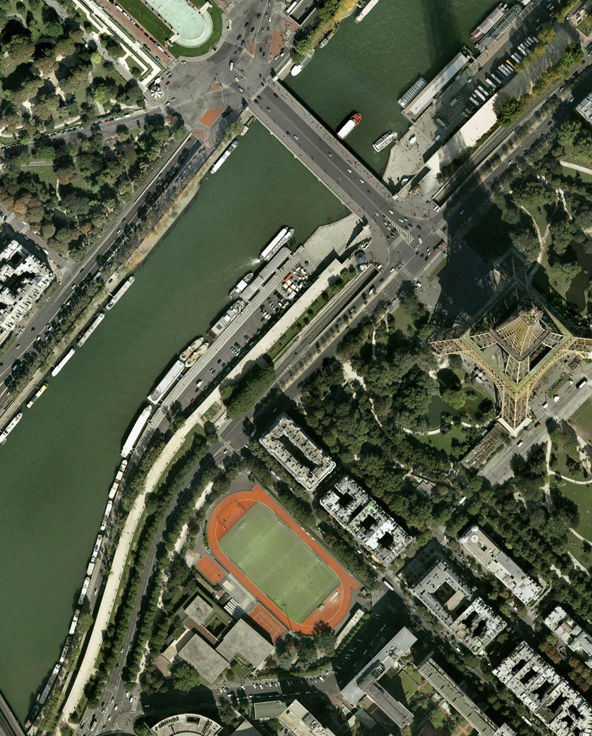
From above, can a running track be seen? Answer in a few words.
Yes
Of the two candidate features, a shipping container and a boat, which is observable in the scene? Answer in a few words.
boat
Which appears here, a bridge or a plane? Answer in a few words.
bridge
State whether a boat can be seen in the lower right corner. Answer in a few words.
No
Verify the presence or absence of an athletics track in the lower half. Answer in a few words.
Yes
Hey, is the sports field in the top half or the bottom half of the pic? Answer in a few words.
bottom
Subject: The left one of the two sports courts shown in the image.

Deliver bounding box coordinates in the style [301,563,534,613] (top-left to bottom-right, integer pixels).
[194,555,228,586]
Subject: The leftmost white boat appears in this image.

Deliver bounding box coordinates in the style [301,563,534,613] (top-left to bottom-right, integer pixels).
[0,414,23,444]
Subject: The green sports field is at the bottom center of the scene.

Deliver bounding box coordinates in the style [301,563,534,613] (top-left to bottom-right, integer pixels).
[203,465,382,639]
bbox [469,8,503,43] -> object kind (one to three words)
boat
